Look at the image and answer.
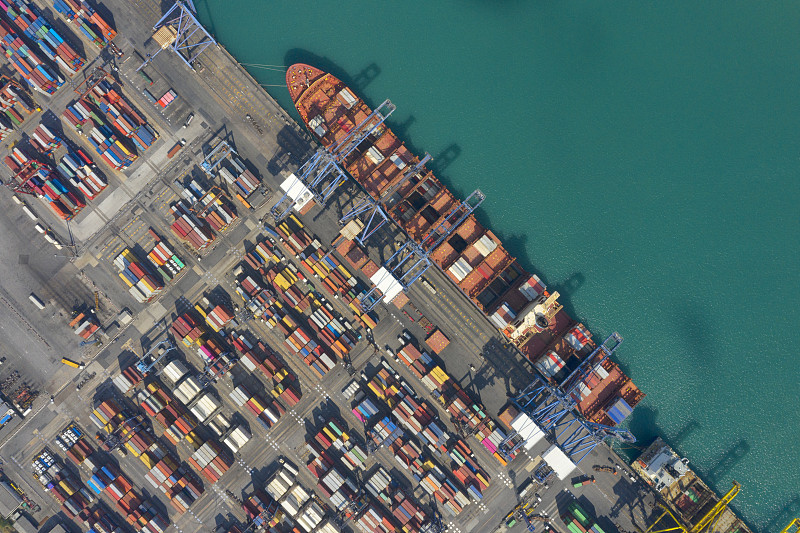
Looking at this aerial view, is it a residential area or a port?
port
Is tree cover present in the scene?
No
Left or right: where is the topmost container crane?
left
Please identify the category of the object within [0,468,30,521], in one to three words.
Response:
building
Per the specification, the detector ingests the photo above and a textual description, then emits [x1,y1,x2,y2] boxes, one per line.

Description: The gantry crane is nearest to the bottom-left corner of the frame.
[95,417,144,460]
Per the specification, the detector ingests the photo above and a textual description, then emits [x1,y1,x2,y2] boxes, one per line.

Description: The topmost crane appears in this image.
[140,0,223,73]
